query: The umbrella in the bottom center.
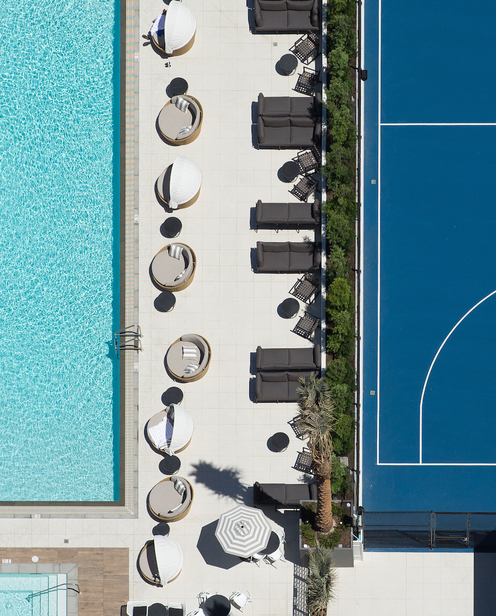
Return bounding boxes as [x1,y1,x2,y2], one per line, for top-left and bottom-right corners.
[214,506,270,563]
